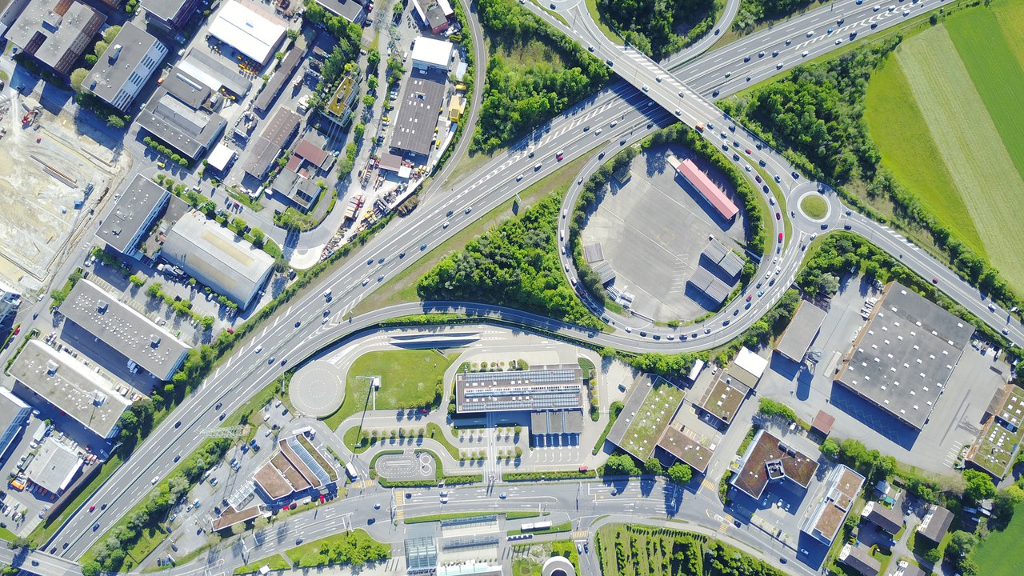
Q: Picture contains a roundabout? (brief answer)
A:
Yes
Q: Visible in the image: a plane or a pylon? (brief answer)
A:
pylon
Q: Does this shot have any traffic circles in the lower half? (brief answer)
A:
No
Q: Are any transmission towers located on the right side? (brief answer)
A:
No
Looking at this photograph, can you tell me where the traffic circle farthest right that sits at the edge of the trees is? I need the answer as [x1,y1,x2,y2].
[787,179,841,234]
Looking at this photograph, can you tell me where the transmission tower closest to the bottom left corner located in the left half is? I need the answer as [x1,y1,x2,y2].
[212,421,255,453]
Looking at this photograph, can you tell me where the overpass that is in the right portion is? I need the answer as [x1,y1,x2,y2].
[524,0,802,198]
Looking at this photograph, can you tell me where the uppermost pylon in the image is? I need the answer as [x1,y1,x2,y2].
[375,35,410,56]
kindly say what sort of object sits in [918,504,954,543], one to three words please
house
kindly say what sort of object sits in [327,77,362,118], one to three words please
building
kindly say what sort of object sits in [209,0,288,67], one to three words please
building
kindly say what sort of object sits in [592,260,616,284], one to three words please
shed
